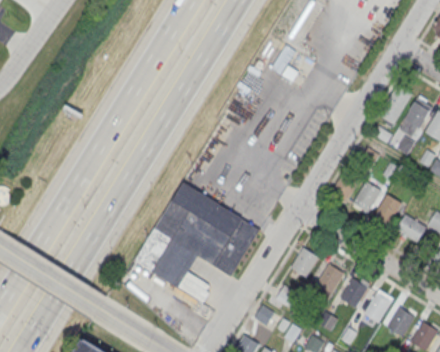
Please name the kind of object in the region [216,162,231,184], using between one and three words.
vehicle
